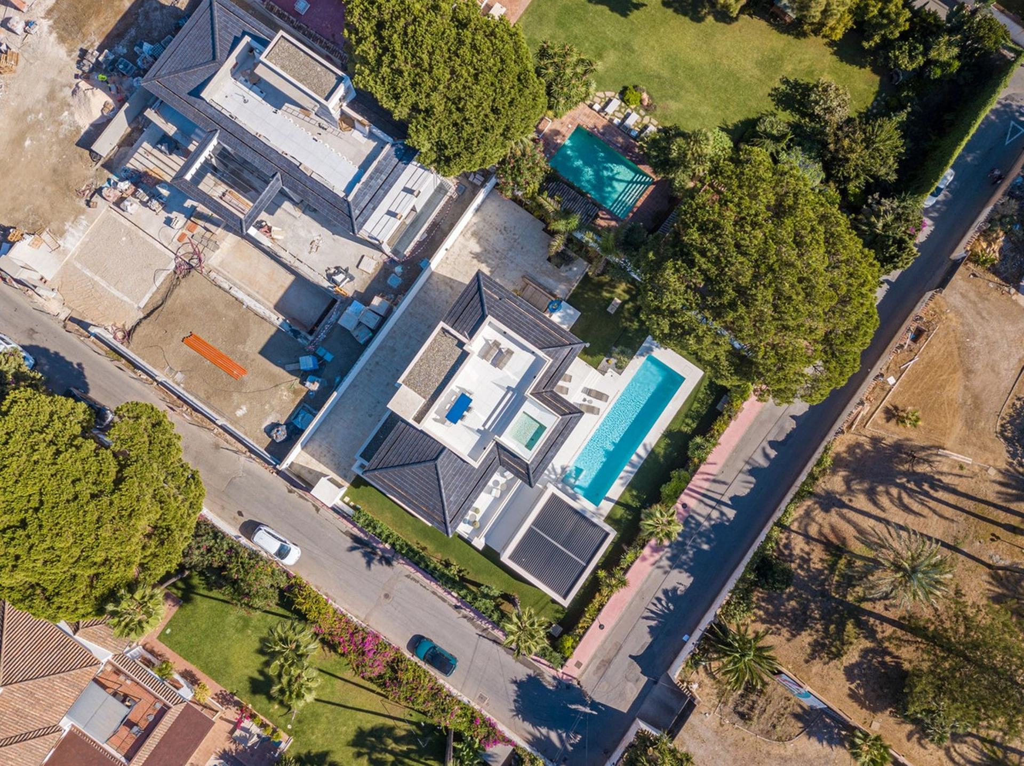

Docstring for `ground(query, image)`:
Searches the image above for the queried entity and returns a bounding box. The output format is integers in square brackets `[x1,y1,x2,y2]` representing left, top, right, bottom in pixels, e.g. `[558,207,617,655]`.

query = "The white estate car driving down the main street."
[247,520,304,568]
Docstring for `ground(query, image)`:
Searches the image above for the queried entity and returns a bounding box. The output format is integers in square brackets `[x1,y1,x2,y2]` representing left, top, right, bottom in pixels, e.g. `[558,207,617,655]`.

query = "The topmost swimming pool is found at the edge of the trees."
[549,125,653,218]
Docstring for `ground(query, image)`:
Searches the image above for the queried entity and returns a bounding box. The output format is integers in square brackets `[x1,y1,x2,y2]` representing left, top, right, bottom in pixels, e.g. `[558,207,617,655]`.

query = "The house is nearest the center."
[350,270,590,558]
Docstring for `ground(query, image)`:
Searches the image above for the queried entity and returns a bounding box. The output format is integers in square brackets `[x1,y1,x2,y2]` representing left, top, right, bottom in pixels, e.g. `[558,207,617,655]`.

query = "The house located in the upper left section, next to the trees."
[91,0,455,262]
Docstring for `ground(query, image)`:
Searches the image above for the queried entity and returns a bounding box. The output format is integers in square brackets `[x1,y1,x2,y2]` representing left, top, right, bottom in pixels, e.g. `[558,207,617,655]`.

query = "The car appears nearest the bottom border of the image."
[411,634,461,679]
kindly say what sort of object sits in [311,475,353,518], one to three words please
building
